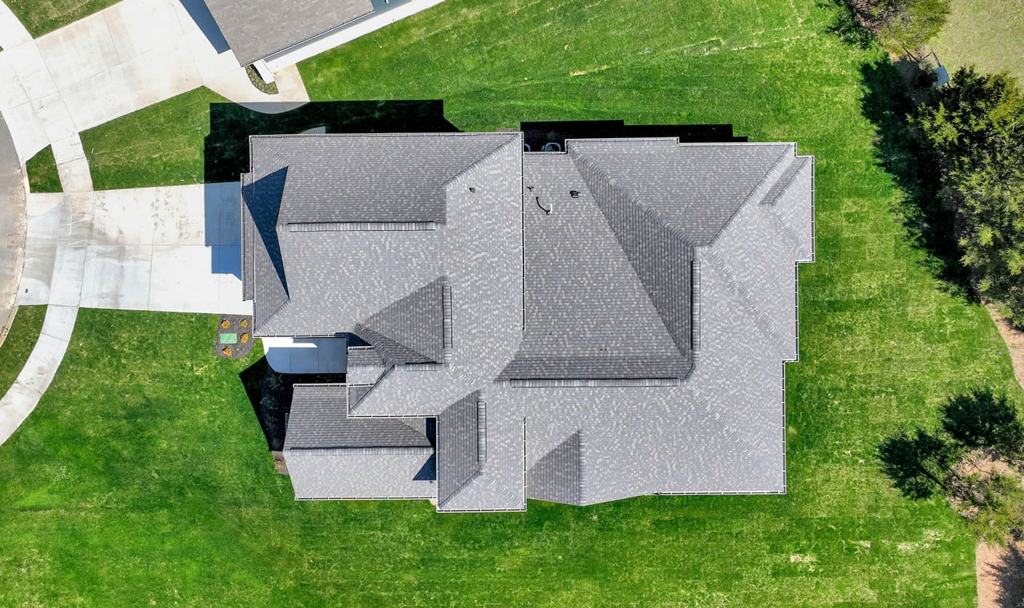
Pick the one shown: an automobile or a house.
house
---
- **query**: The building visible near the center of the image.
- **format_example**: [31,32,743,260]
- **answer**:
[241,132,815,511]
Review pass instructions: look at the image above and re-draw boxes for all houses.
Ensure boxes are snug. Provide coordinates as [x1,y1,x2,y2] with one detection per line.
[241,132,815,511]
[207,0,420,66]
